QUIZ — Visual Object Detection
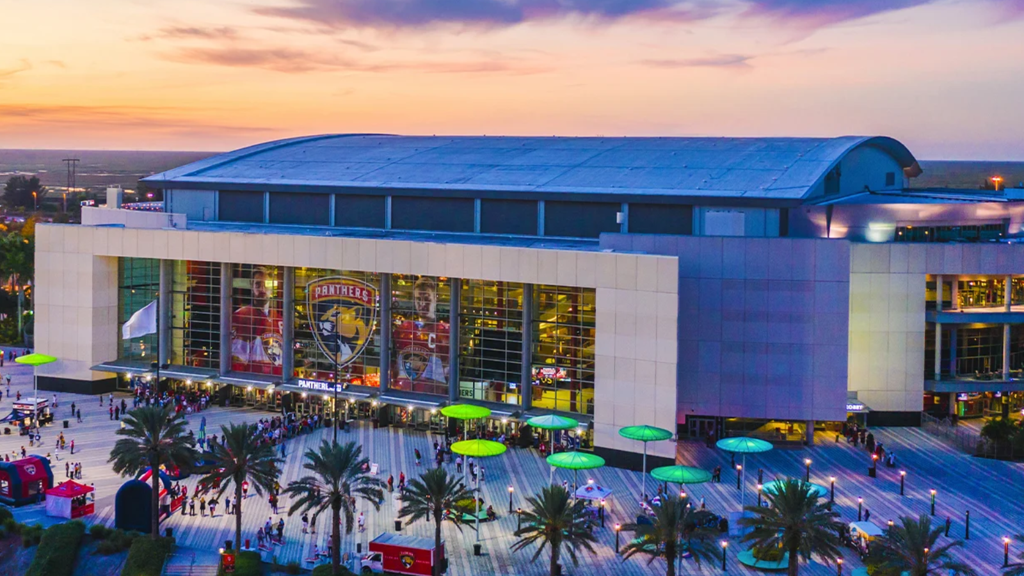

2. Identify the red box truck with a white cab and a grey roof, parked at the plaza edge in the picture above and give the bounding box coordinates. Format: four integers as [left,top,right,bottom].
[359,530,448,576]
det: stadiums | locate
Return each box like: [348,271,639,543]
[35,133,1024,474]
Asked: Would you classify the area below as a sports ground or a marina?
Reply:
sports ground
